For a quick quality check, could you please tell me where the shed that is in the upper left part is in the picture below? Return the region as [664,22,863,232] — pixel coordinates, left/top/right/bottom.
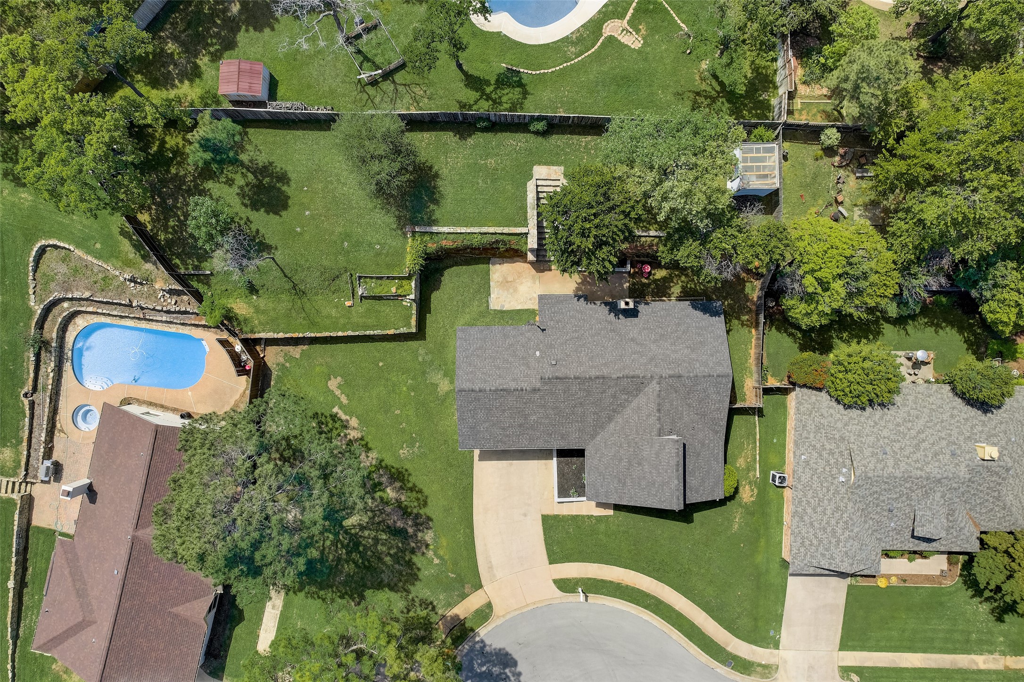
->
[219,59,269,103]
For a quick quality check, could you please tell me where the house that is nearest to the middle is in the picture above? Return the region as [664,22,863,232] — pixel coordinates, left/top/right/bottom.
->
[456,294,732,511]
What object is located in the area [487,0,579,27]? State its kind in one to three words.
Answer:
swimming pool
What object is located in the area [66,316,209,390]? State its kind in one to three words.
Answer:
swimming pool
